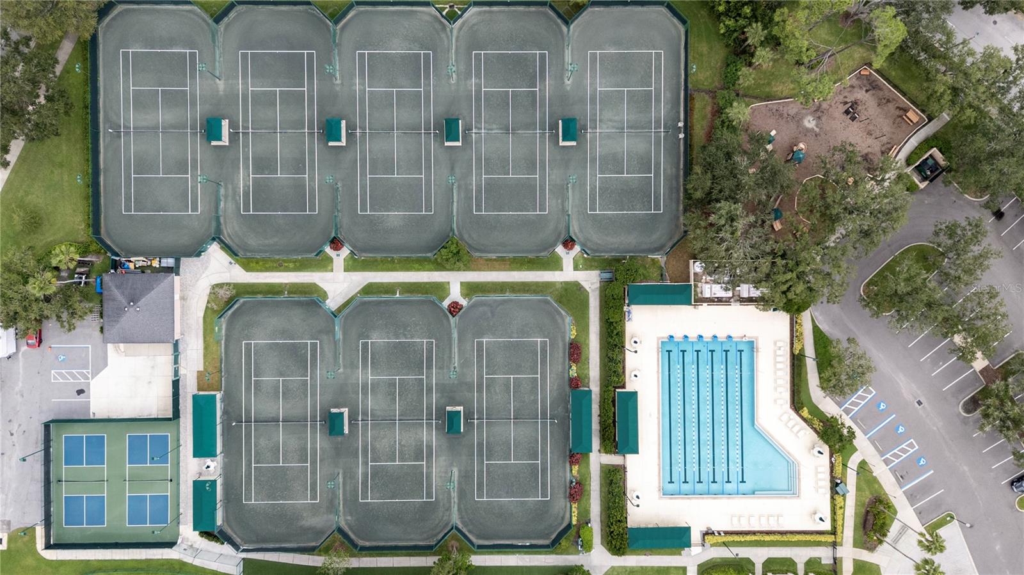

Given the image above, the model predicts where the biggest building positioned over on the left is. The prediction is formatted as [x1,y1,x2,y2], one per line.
[102,273,180,343]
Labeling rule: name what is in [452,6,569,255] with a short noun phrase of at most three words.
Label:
tennis court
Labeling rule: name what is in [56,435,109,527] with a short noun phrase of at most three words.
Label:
sports court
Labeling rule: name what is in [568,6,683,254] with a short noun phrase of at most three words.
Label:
tennis court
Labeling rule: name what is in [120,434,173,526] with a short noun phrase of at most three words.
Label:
sports court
